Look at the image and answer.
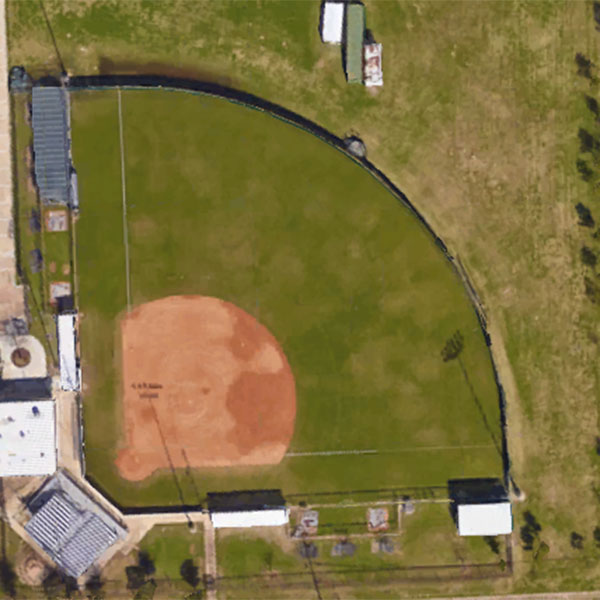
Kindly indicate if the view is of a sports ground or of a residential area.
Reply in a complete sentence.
What you see here is a sports ground.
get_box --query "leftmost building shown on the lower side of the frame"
[0,401,58,476]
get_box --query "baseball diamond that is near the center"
[69,87,508,513]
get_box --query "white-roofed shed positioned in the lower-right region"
[458,503,513,536]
